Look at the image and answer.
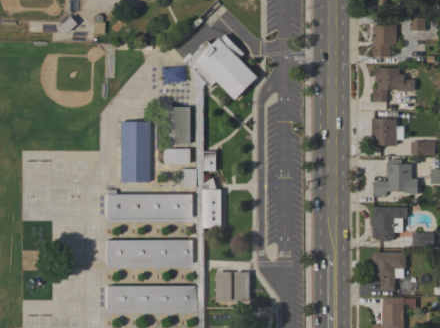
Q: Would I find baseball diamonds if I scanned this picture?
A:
Yes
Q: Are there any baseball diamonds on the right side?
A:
No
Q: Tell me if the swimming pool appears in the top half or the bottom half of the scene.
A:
bottom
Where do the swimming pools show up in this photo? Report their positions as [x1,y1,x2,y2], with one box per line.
[408,210,438,232]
